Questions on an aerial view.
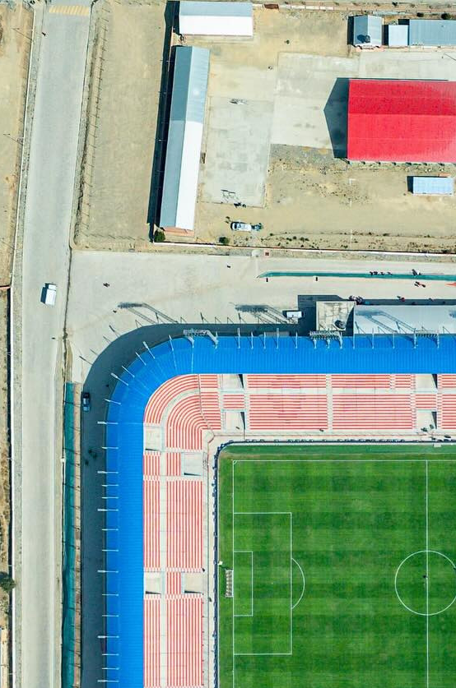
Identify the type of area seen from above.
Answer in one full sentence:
The area seen from above is a sports ground.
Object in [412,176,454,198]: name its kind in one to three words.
shed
